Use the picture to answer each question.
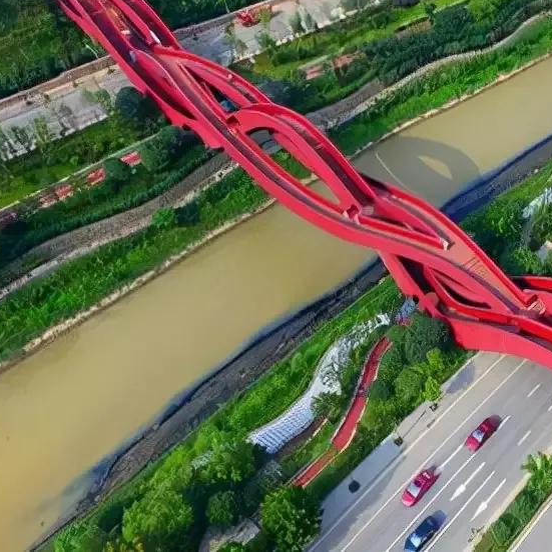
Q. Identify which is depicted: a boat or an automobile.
automobile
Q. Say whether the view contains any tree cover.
Yes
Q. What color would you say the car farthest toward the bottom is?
blue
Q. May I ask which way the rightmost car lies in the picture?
diagonally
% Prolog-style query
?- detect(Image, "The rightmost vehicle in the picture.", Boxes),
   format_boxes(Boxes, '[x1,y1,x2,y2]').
[463,414,502,454]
